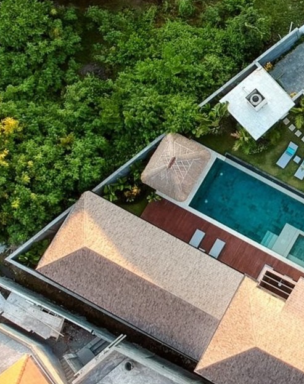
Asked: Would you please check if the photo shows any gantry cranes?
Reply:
No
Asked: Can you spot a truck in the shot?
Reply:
No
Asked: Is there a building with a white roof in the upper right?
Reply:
Yes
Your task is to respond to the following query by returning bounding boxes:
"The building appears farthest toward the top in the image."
[220,64,295,140]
